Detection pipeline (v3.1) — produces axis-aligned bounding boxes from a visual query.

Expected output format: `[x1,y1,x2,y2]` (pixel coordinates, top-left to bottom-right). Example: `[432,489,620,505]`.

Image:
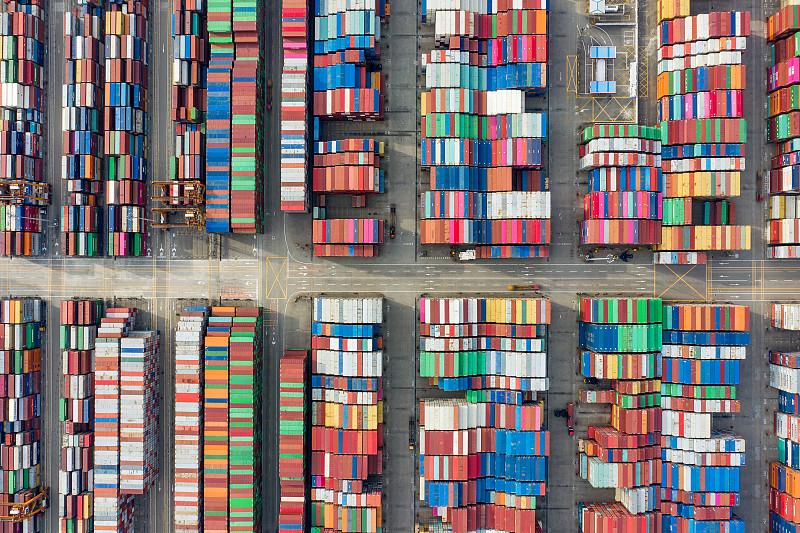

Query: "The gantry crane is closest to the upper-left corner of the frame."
[0,181,50,206]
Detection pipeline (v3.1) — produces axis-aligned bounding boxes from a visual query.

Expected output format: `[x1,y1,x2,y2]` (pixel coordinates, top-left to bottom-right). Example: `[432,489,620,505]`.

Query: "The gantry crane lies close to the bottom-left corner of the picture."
[0,485,50,520]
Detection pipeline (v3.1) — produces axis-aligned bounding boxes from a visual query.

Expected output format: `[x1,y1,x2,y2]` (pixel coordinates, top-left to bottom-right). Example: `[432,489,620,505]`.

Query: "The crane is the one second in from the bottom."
[145,208,207,232]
